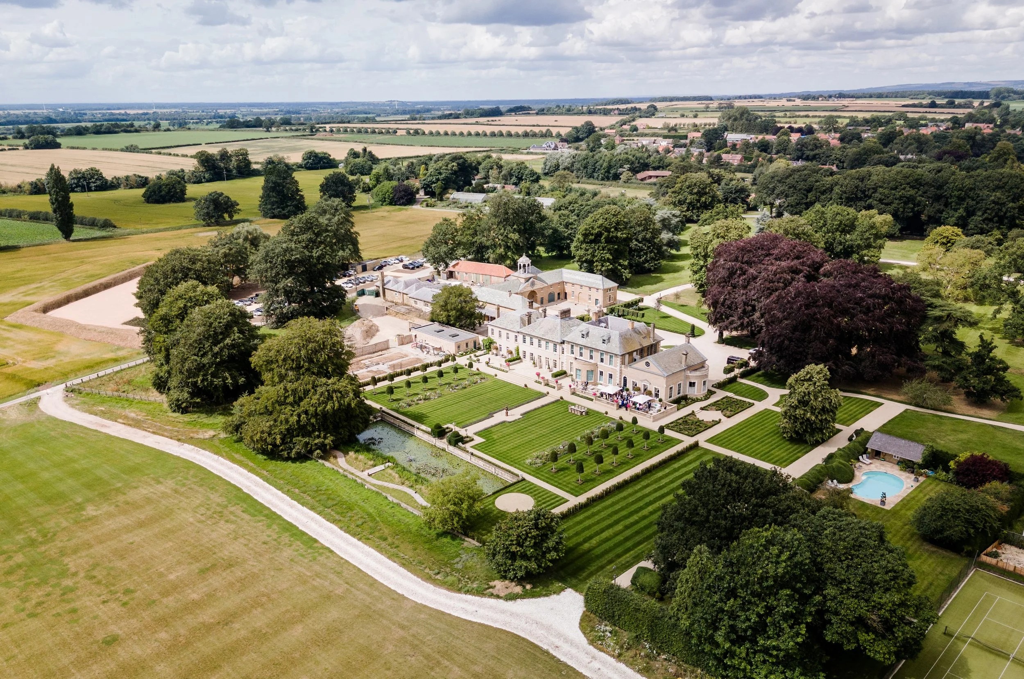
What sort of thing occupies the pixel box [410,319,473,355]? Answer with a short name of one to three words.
shed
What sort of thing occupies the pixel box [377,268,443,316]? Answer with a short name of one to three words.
shed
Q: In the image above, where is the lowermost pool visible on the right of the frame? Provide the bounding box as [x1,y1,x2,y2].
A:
[850,470,906,500]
